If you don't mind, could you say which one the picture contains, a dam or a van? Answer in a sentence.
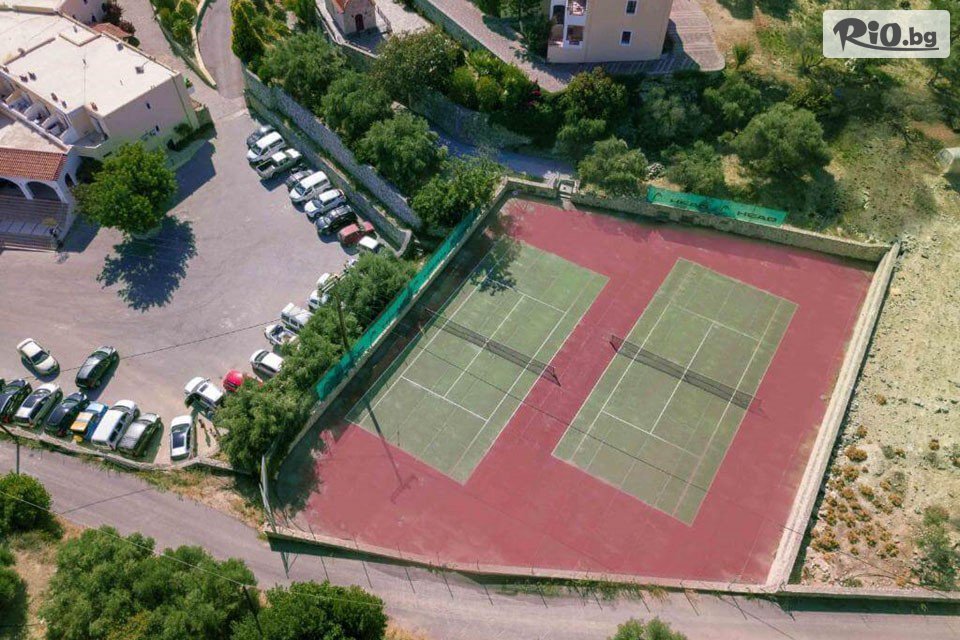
Visible in the photo is a van.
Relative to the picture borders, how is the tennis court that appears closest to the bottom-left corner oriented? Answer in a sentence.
In this picture, the tennis court that appears closest to the bottom-left corner is oriented on a diagonal.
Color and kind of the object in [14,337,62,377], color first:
white car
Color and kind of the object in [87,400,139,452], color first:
white van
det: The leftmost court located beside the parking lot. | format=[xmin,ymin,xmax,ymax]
[346,234,608,484]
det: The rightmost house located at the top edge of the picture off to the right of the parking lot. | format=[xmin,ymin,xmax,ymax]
[544,0,672,62]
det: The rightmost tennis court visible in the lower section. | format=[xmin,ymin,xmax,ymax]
[553,258,798,525]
